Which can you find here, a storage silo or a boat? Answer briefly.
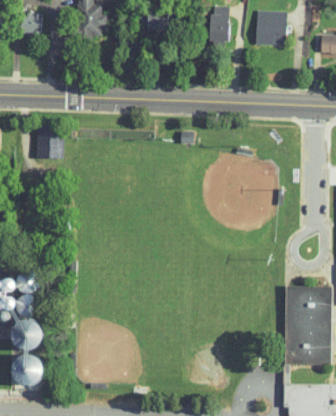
storage silo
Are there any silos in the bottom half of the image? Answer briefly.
Yes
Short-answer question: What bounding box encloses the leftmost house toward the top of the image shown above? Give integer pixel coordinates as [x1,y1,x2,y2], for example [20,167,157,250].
[22,8,44,34]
